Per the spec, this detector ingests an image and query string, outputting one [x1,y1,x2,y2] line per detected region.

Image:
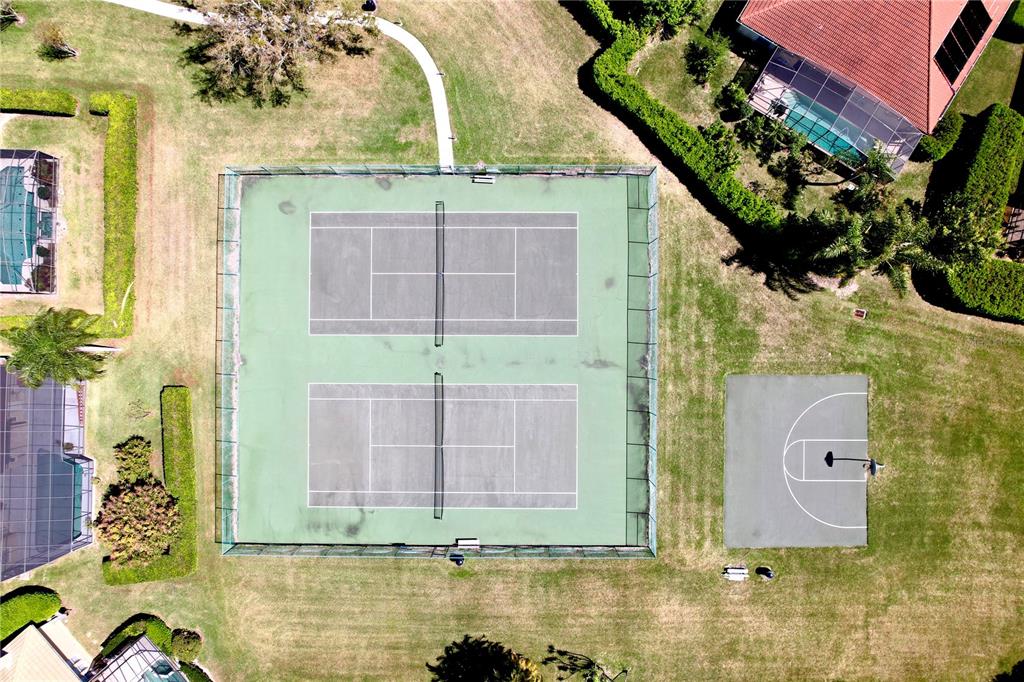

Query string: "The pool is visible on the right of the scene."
[781,89,877,165]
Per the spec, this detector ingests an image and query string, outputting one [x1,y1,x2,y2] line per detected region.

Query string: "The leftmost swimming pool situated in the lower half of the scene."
[63,448,83,545]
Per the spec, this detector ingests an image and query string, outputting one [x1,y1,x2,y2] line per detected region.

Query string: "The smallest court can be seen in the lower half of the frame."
[724,375,869,548]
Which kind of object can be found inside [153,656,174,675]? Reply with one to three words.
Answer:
swimming pool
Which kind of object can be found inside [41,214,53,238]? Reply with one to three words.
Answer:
swimming pool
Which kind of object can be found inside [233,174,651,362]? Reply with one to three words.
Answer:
tennis court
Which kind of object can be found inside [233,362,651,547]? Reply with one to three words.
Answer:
tennis court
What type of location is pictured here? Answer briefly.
sports ground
